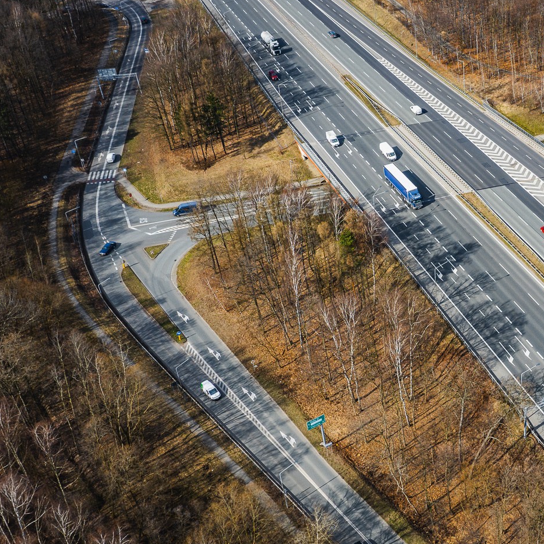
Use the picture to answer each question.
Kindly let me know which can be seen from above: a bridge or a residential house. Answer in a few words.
bridge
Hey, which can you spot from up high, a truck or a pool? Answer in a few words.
truck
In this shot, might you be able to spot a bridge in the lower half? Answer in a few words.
No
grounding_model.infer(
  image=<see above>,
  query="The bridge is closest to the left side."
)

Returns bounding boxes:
[284,130,369,230]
